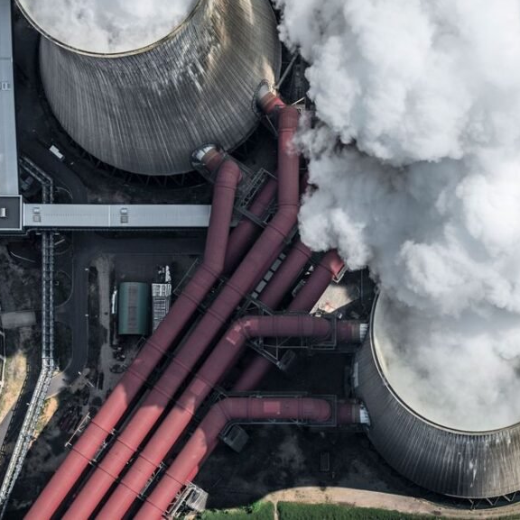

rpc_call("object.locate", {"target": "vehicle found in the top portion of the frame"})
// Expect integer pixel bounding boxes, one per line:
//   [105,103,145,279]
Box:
[50,145,64,160]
